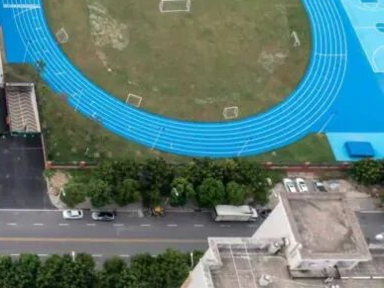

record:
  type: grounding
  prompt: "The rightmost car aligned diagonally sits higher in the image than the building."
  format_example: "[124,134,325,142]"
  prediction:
[312,176,330,194]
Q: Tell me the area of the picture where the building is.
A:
bottom right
